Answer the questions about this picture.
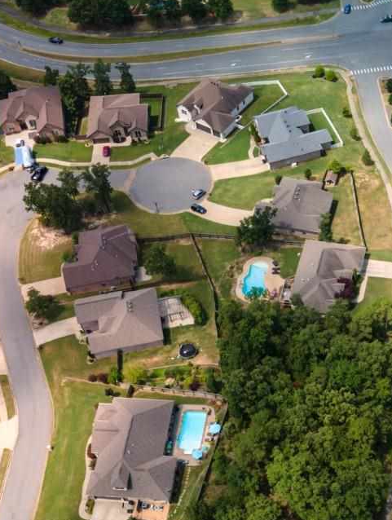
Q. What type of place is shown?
residential area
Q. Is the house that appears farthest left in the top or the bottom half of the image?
top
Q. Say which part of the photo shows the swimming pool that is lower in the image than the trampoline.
bottom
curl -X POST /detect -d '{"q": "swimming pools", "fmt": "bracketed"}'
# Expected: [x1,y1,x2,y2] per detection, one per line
[235,256,285,303]
[174,405,215,465]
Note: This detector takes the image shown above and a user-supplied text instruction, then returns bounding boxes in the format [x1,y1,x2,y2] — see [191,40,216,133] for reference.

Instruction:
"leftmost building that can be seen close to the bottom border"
[85,399,178,507]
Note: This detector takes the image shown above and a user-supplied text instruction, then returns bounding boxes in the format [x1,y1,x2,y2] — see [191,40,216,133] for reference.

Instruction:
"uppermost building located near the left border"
[0,89,68,141]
